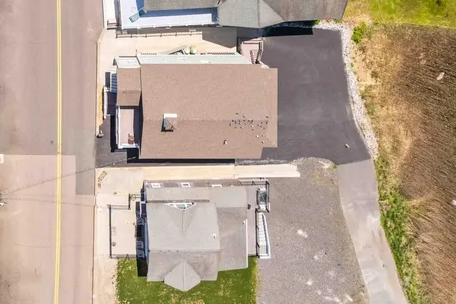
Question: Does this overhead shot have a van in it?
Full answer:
No, I can't see a single van in this photo.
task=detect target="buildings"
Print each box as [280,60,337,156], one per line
[103,40,279,159]
[134,174,272,292]
[119,0,348,30]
